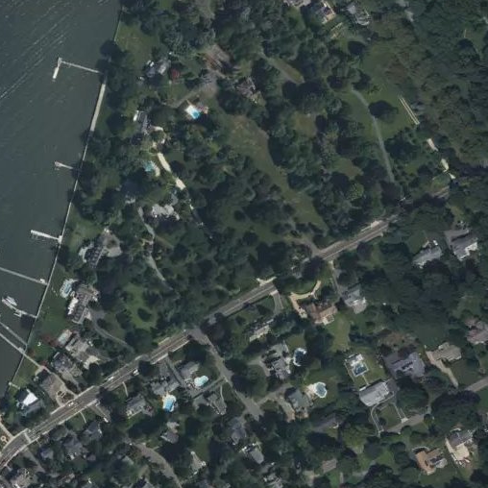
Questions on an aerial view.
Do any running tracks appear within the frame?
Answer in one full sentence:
No, the photo shows no running track.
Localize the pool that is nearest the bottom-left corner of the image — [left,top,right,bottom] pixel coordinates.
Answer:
[162,396,176,412]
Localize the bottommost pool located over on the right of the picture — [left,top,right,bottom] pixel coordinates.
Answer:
[313,382,327,399]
